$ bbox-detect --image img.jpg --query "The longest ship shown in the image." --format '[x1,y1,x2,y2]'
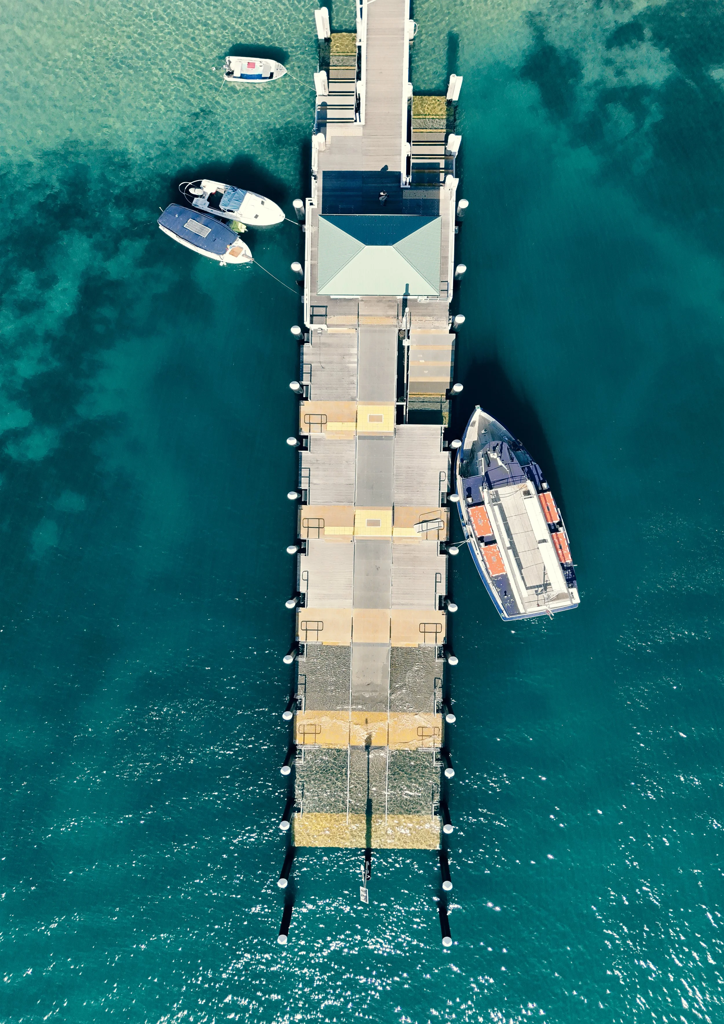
[454,405,580,621]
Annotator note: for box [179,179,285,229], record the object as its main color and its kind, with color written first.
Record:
white boat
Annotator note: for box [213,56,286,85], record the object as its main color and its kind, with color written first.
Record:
white boat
